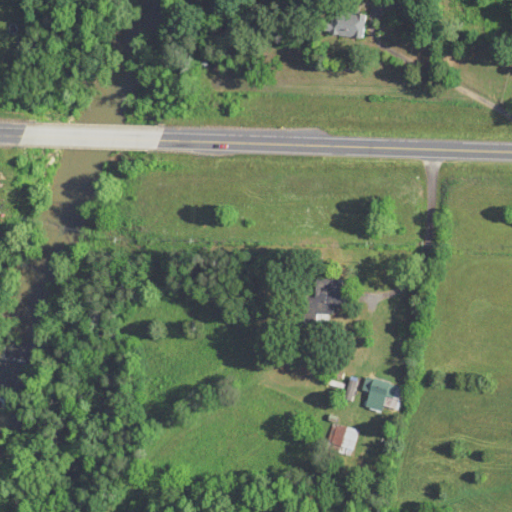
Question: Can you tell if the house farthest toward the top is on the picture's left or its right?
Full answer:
You can find the house farthest toward the top on the right side of the picture.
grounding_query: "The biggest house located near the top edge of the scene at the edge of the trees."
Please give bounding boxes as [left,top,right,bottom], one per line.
[326,14,368,40]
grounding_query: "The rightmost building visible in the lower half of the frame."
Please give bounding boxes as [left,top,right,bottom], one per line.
[363,376,402,414]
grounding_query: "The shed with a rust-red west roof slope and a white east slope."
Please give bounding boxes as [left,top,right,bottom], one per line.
[328,425,358,456]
